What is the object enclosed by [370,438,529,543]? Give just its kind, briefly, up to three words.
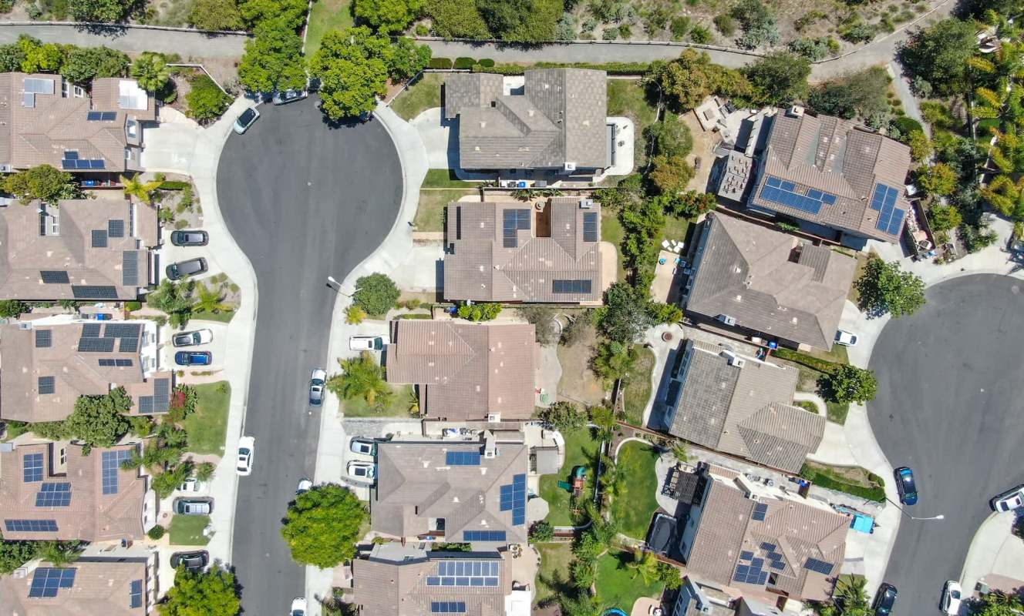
house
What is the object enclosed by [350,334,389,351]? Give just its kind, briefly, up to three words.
car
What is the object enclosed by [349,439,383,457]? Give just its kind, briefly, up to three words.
car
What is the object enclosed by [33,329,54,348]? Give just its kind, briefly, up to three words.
solar array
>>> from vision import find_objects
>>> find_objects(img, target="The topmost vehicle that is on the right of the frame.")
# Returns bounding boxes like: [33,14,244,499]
[832,329,861,347]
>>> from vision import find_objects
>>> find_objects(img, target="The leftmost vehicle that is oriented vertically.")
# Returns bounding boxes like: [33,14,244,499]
[237,436,255,474]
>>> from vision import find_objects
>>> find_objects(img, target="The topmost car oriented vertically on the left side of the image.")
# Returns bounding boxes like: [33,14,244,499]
[309,368,327,405]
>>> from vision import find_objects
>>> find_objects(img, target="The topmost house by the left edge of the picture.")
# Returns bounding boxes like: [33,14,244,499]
[0,66,163,175]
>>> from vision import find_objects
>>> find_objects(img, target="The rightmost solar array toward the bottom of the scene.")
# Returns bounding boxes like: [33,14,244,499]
[804,558,835,574]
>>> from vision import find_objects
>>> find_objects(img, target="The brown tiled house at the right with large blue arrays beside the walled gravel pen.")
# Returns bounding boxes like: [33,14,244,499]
[743,105,913,241]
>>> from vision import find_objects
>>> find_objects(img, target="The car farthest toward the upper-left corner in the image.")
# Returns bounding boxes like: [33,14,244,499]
[233,103,262,137]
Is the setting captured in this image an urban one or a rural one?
urban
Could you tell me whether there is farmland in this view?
No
